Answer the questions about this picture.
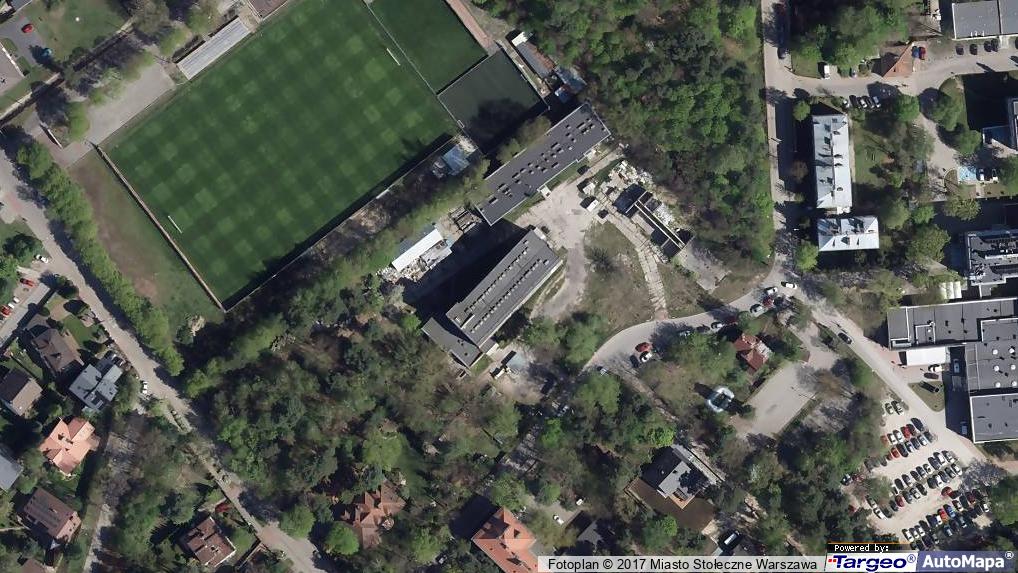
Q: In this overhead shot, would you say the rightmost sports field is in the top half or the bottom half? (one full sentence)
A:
It is in the top half that the rightmost sports field appears.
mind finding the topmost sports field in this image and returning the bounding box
[367,0,523,95]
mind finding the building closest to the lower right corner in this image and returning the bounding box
[967,393,1018,444]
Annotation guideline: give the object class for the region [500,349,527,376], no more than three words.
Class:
shed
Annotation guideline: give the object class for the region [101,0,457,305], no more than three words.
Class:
soccer field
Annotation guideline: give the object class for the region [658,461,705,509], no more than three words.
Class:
house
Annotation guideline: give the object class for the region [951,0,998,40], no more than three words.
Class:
building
